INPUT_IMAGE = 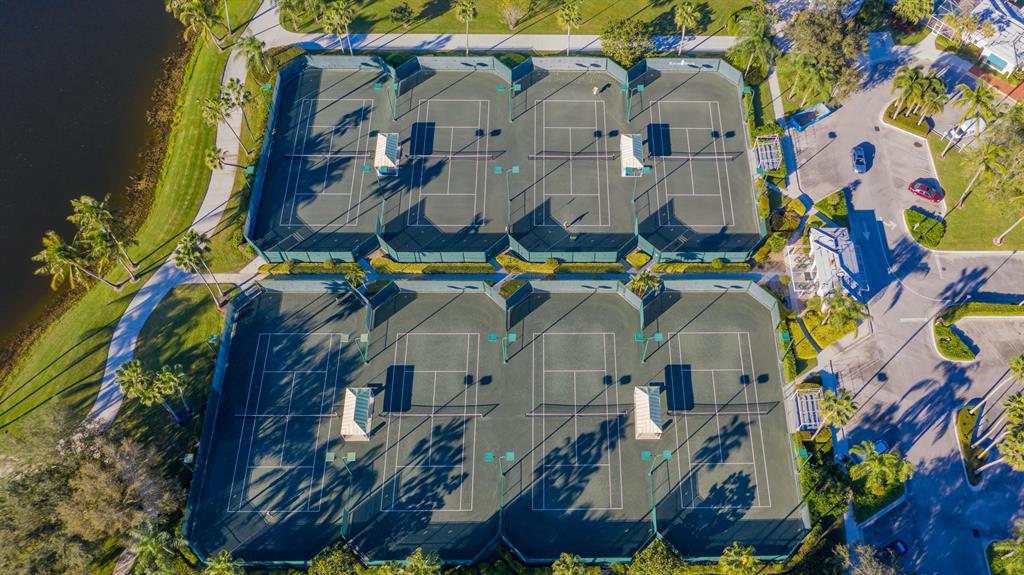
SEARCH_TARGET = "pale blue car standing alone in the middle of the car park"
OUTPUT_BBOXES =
[852,143,868,171]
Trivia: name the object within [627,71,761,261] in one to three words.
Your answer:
tennis court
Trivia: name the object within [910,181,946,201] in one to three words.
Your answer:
car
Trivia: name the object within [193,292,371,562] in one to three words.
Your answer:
tennis court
